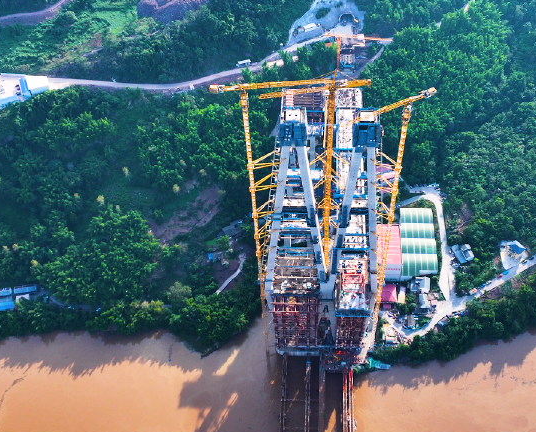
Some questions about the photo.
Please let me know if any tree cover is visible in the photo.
Yes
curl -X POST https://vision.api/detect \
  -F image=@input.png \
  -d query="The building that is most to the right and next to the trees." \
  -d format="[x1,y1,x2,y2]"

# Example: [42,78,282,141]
[504,241,526,267]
